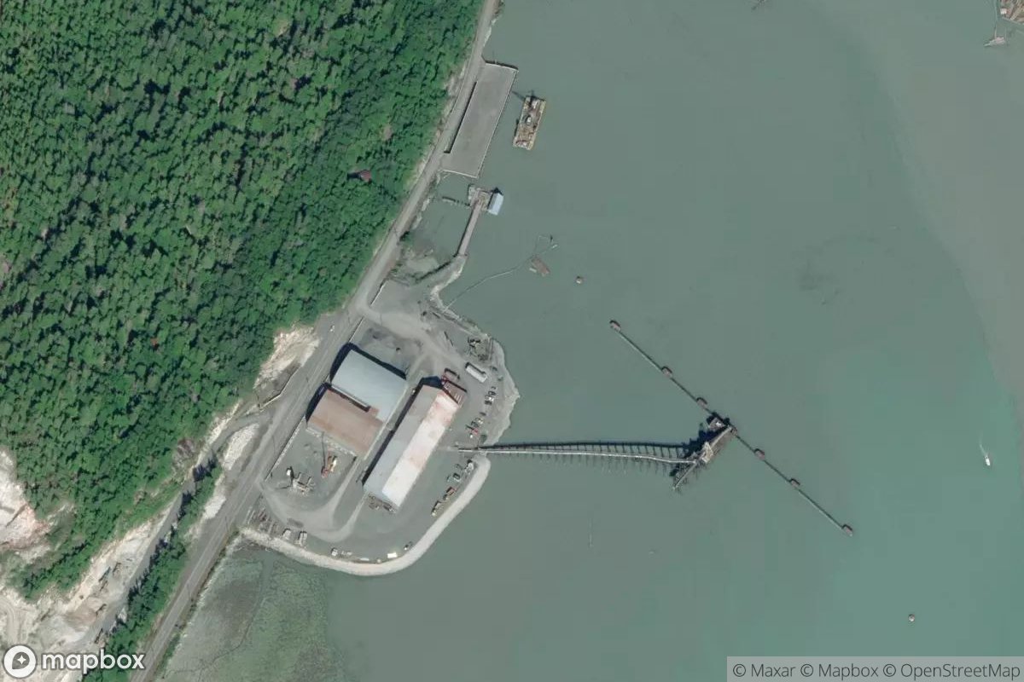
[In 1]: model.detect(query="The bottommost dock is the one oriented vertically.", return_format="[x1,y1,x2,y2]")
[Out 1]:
[462,187,491,256]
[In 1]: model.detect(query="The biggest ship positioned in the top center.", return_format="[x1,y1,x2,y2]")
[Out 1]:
[514,95,546,151]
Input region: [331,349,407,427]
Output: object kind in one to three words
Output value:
shed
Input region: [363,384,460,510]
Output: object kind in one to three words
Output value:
shed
